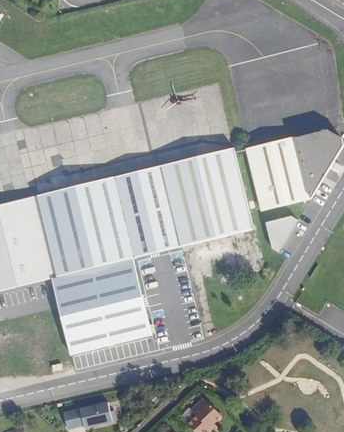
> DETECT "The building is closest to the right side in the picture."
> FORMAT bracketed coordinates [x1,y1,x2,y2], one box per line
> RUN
[294,128,344,199]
